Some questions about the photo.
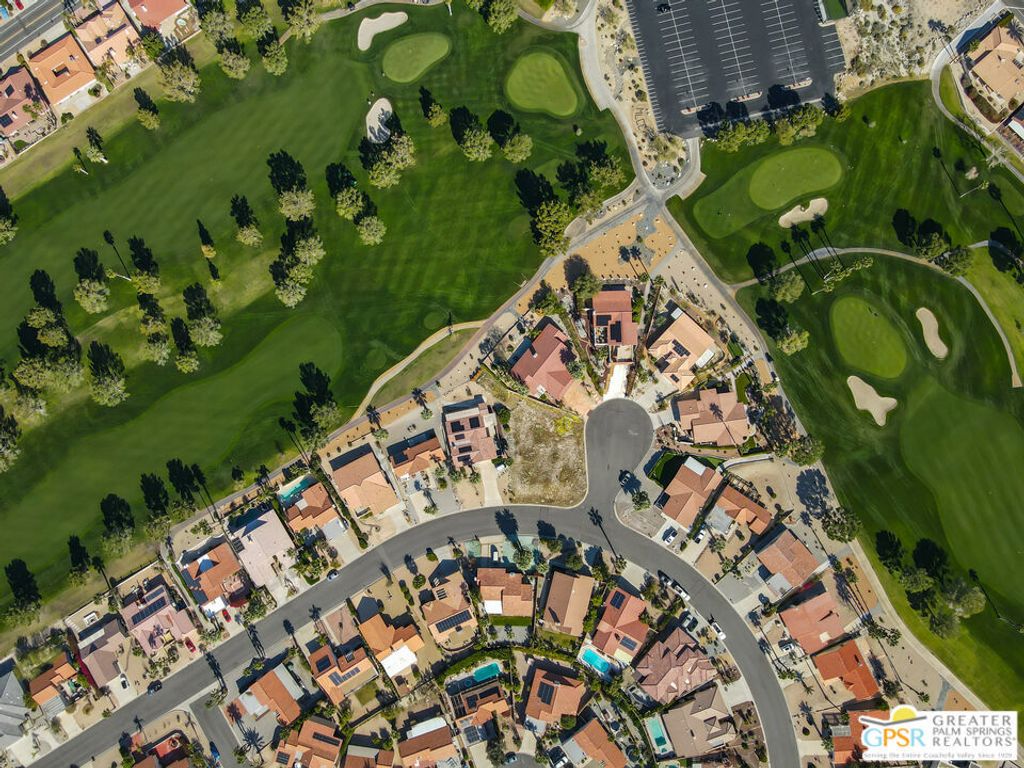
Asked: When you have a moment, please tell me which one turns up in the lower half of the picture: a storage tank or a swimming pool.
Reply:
swimming pool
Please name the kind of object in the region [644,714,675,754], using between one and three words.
swimming pool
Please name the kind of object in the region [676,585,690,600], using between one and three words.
vehicle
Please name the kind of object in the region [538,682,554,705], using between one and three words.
solar panel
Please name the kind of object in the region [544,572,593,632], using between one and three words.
house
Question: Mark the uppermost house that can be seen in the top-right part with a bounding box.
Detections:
[960,24,1024,115]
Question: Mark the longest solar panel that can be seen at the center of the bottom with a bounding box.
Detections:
[436,610,472,633]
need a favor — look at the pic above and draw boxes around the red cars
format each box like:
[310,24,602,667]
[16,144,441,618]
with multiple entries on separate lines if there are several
[185,638,196,651]
[222,609,232,622]
[15,0,26,12]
